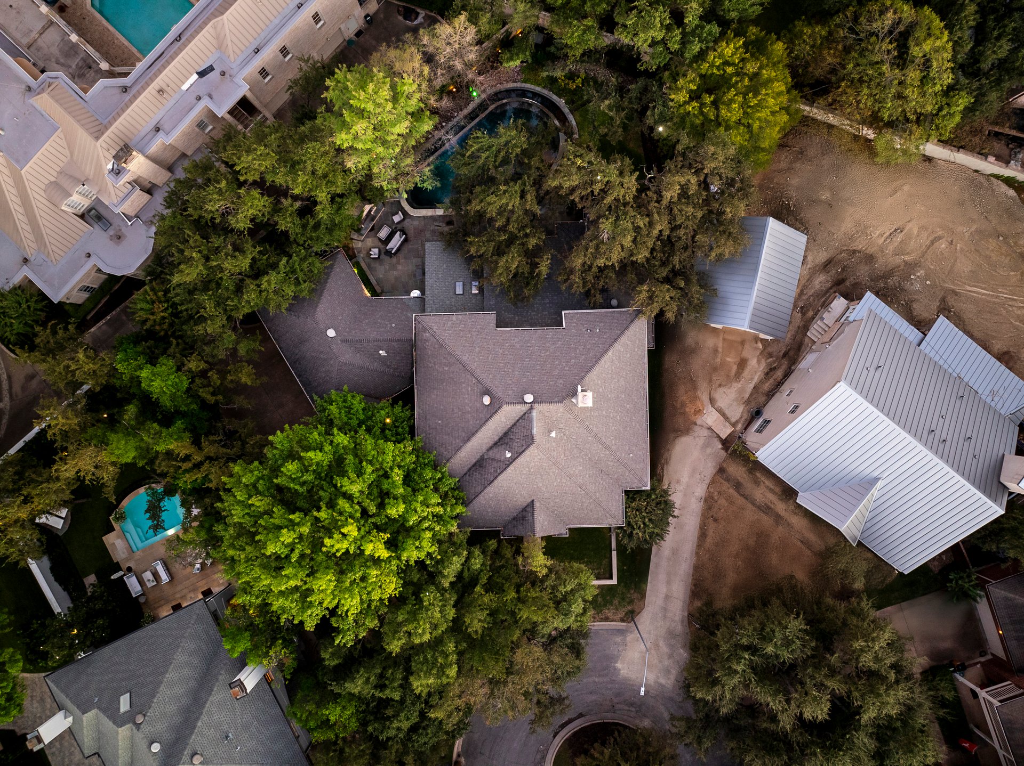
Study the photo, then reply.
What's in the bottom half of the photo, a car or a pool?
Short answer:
pool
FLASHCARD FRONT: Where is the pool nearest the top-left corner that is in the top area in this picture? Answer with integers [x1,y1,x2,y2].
[86,0,202,62]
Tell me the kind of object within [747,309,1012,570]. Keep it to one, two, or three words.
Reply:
house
